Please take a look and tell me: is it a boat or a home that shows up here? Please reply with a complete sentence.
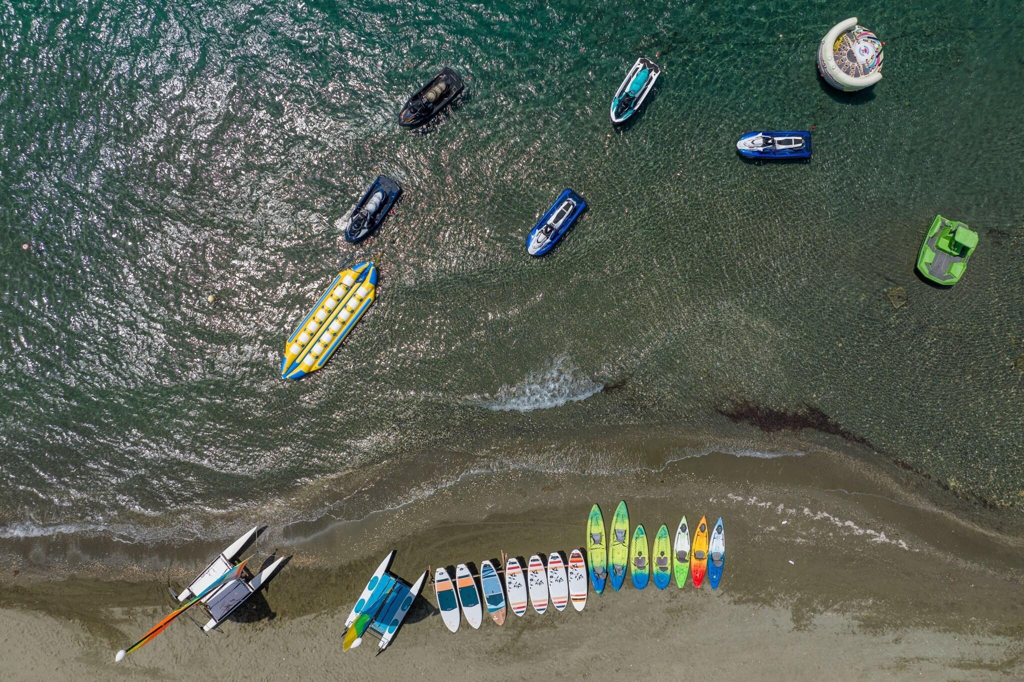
Of the two, only a boat appears.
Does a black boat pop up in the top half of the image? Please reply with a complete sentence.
Yes, you'll find a black boat in the top half of the image.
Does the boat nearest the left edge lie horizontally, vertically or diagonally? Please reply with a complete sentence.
In this picture, the boat nearest the left edge is oriented diagonally.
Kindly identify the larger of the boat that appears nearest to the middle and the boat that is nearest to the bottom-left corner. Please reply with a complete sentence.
The boat that appears nearest to the middle is smaller than the boat that is nearest to the bottom-left corner.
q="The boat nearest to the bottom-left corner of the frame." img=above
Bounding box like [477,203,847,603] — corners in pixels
[113,524,286,663]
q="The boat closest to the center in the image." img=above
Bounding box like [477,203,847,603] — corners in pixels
[530,191,586,255]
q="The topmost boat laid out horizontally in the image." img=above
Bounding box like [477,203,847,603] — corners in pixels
[736,131,811,160]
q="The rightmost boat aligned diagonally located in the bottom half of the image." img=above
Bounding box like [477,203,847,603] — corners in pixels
[337,548,426,662]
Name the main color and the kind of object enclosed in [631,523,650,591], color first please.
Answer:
green boat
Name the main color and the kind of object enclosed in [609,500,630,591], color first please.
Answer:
green boat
